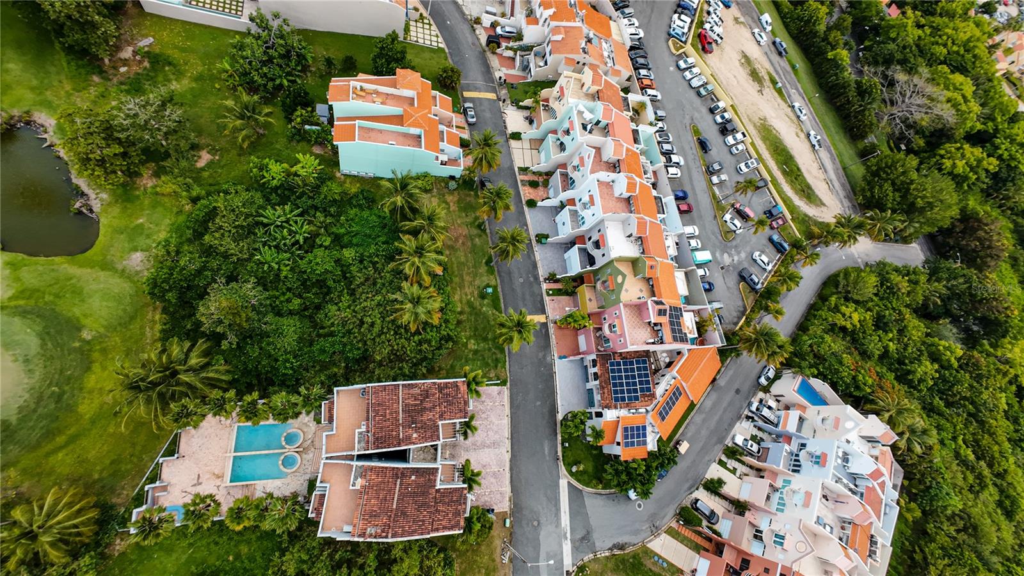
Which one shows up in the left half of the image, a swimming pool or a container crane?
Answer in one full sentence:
The one visible in the left half of the image is a swimming pool.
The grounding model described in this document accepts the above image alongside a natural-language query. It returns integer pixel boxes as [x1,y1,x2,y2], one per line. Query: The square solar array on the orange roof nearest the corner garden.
[624,426,648,449]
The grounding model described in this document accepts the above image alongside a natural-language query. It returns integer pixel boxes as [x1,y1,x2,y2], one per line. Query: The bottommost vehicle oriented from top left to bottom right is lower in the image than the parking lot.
[689,495,718,527]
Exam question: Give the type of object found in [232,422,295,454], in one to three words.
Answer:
swimming pool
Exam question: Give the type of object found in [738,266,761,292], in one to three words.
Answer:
truck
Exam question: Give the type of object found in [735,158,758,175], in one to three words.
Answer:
vehicle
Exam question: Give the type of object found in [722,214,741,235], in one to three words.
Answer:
car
